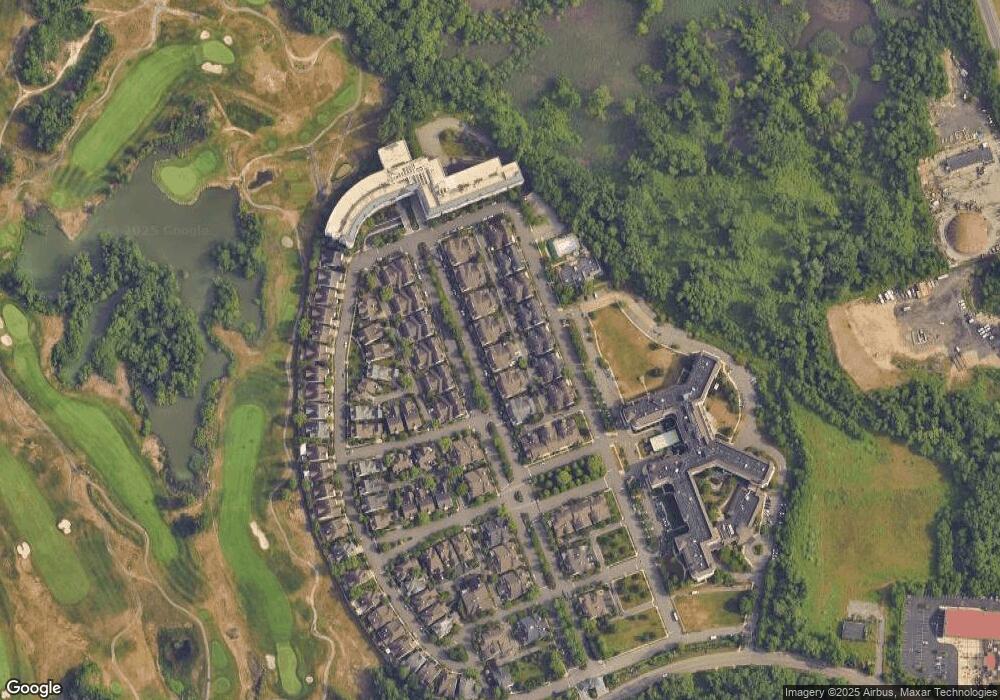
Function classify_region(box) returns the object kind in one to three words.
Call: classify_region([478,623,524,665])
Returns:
house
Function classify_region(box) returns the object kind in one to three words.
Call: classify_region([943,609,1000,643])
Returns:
building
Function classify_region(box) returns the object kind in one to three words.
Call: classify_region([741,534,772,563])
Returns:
roundabout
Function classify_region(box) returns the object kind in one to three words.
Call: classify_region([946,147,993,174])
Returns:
shed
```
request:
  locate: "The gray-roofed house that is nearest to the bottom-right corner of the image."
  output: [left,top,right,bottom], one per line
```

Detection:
[843,623,866,641]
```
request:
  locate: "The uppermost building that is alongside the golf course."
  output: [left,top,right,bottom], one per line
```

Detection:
[325,141,524,251]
